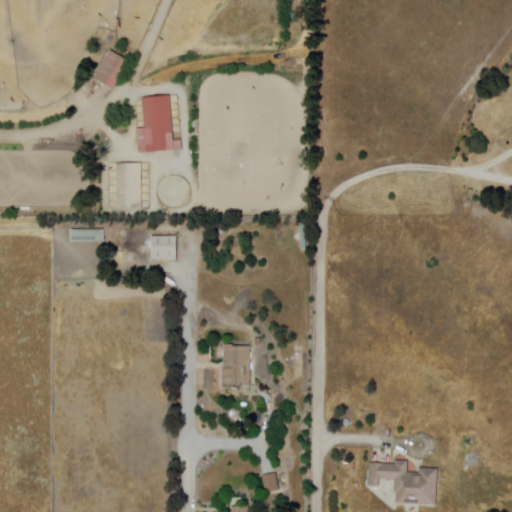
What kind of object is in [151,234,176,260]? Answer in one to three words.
building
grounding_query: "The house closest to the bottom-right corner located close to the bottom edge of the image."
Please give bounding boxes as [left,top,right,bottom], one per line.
[369,460,438,504]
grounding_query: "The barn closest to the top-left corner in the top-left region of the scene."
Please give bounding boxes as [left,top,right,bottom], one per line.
[93,49,124,88]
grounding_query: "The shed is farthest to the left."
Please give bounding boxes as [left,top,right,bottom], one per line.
[69,228,104,242]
